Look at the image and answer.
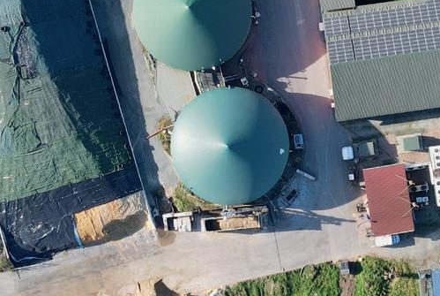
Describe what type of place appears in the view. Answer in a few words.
industrial area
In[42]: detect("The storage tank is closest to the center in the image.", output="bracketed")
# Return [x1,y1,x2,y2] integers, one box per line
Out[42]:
[170,86,290,207]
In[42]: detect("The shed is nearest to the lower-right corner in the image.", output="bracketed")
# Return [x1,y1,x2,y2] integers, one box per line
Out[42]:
[417,265,440,296]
